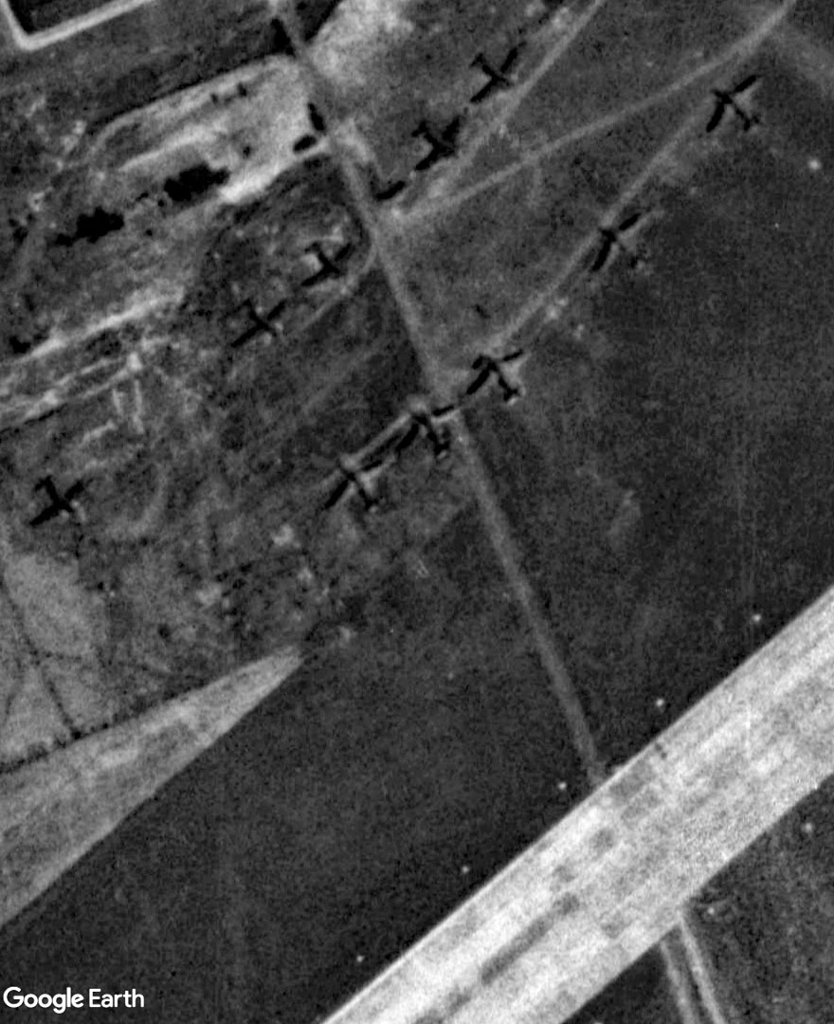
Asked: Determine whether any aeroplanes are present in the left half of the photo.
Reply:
Yes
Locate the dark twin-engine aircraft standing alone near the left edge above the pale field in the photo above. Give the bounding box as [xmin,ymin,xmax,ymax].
[31,479,86,523]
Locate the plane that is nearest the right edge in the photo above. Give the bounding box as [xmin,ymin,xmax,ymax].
[713,77,768,134]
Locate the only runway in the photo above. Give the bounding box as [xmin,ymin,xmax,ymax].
[321,590,834,1024]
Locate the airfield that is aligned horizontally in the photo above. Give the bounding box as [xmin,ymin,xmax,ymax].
[0,590,834,1024]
